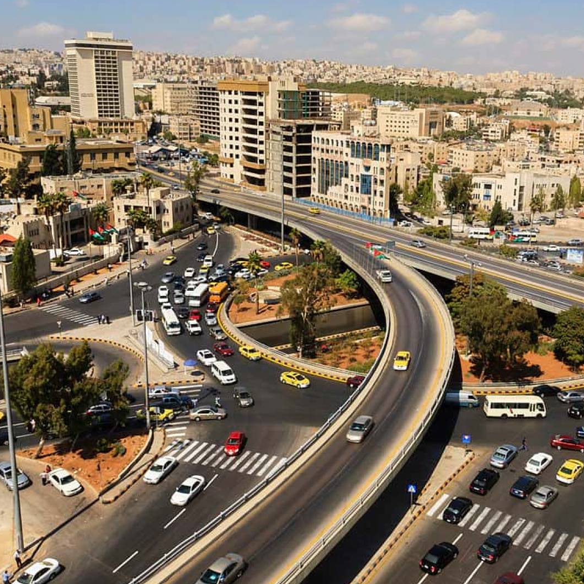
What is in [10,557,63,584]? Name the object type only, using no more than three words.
car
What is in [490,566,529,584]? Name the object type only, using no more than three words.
car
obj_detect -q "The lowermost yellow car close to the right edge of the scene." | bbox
[556,462,584,486]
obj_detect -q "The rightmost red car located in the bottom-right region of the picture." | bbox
[549,435,584,452]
